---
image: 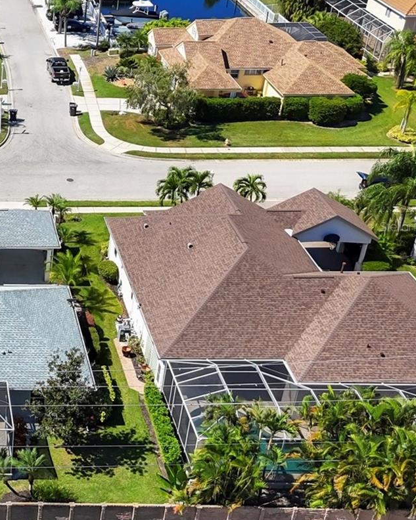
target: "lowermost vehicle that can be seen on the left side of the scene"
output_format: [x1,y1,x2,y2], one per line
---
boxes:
[51,62,74,84]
